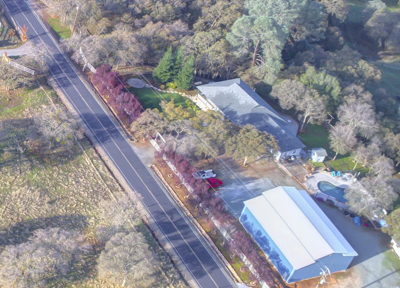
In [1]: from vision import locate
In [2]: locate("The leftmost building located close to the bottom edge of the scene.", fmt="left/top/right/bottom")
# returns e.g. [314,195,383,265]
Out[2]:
[237,188,361,283]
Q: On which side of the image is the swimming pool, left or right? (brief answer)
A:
right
